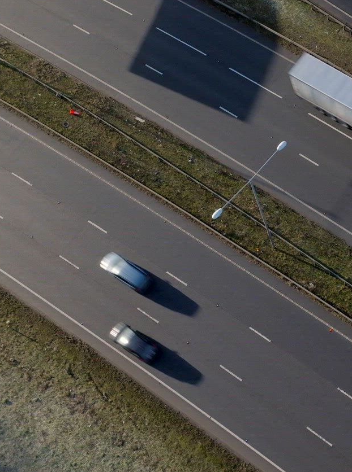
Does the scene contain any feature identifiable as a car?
Yes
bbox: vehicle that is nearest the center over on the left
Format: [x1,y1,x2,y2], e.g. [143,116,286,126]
[102,254,153,294]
